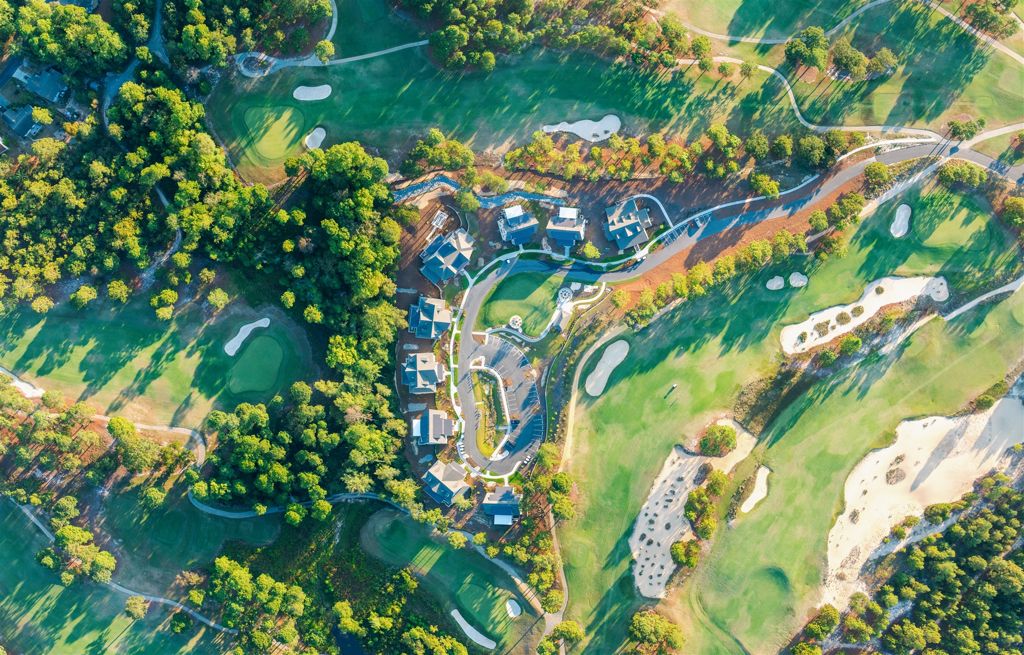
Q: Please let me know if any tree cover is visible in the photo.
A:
Yes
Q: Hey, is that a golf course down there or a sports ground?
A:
golf course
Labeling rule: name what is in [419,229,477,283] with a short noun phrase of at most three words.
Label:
house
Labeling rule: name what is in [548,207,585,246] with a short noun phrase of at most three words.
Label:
house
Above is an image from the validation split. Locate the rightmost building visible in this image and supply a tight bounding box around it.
[600,194,655,250]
